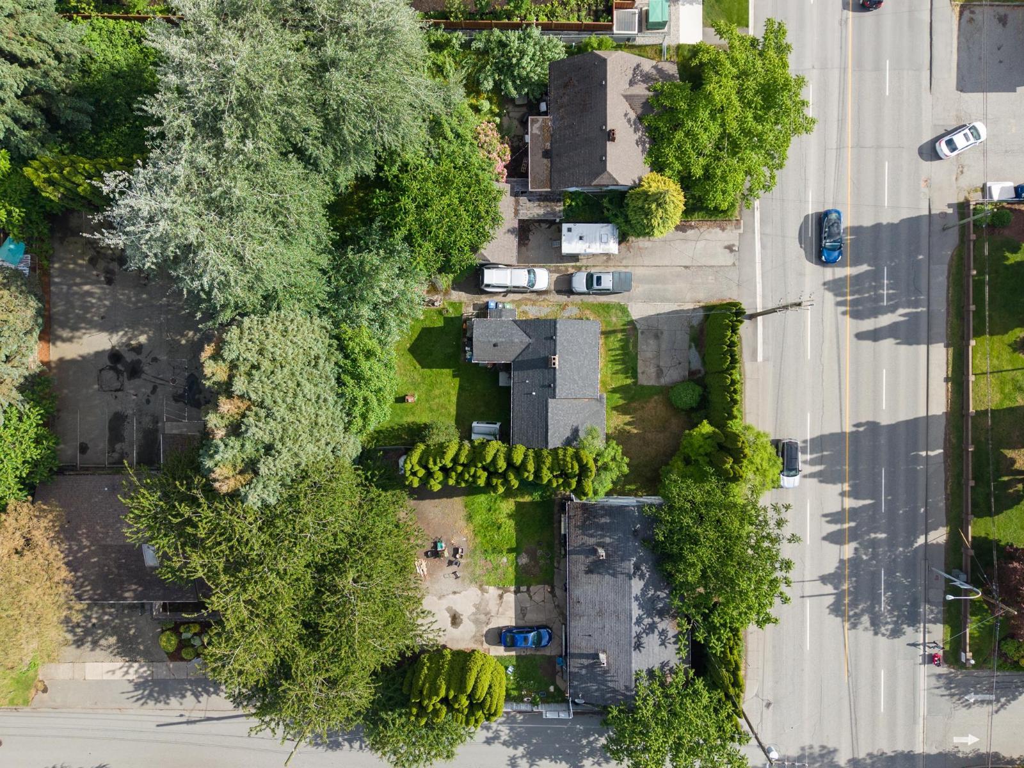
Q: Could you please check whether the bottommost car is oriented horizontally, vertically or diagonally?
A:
horizontally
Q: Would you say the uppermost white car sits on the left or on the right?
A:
right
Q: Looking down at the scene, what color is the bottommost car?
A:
blue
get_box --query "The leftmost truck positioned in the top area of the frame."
[480,266,549,294]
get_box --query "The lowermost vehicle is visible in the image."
[500,624,551,650]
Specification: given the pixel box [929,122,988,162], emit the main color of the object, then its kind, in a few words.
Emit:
white car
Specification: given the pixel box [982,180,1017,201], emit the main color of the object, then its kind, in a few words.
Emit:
white trailer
